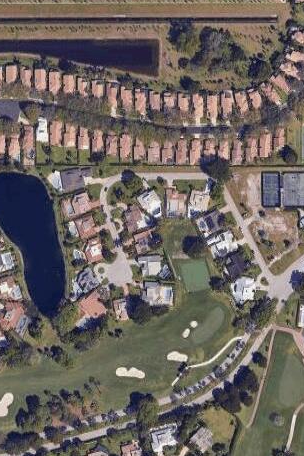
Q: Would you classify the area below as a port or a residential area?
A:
residential area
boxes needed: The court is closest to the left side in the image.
[263,173,280,206]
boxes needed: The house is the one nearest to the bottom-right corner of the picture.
[188,425,215,452]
